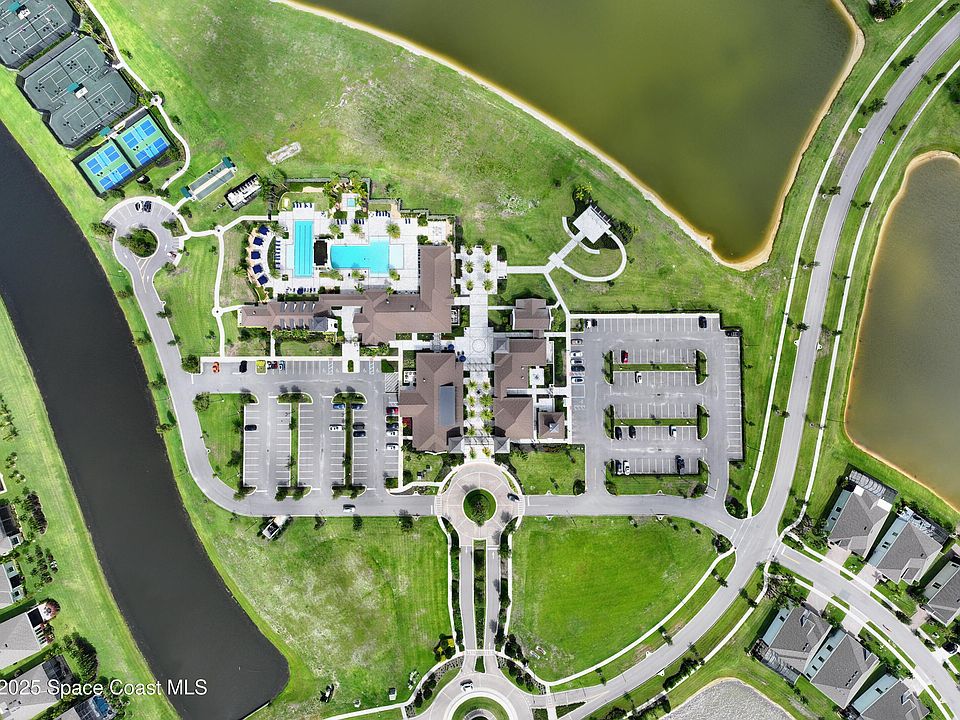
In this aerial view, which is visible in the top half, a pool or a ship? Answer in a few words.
pool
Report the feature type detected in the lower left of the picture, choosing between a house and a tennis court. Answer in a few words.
house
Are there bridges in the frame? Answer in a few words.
No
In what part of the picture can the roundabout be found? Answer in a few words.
bottom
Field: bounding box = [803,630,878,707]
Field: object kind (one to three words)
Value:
house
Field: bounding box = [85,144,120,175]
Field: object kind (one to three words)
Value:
sports court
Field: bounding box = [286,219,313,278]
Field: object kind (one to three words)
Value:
swimming pool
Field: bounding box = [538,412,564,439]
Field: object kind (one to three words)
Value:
gazebo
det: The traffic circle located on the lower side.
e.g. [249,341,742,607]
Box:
[429,652,608,720]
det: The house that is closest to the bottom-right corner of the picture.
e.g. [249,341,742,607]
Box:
[847,673,929,720]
